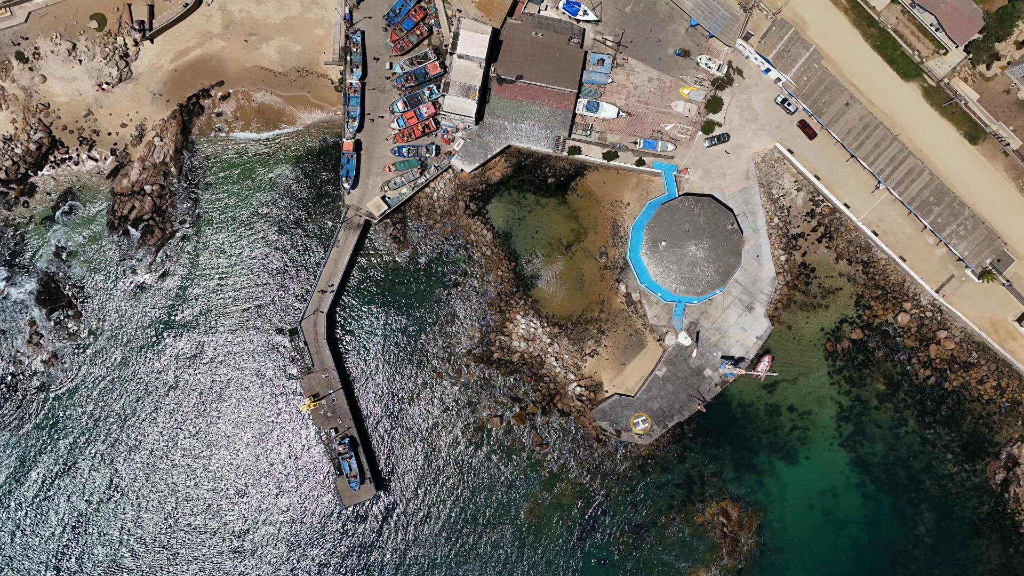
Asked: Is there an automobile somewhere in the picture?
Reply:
Yes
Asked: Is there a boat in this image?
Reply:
Yes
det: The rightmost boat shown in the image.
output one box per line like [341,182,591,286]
[752,354,772,381]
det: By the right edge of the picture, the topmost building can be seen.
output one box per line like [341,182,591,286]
[904,0,986,48]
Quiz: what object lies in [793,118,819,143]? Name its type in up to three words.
car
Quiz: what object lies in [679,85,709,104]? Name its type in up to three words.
boat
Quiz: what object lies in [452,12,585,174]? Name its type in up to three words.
building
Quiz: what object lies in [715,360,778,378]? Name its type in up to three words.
crane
